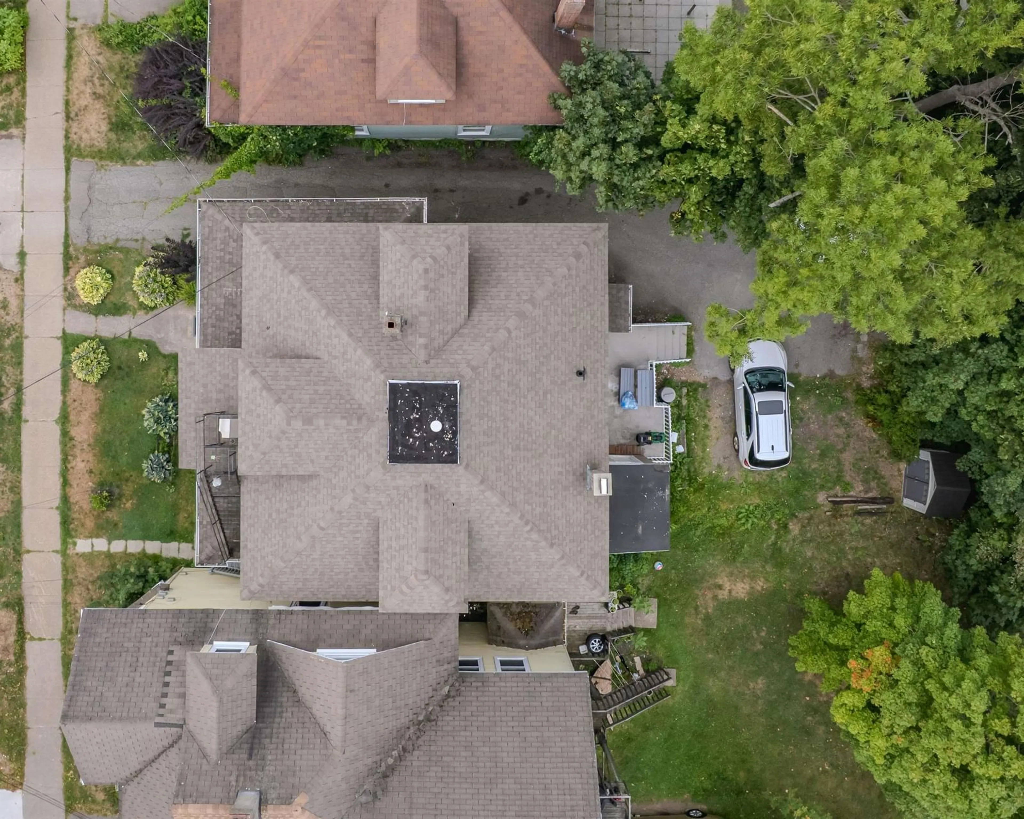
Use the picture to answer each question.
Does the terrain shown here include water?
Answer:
No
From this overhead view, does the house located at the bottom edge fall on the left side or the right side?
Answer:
left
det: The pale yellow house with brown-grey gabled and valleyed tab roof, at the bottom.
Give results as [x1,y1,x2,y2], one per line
[61,573,604,819]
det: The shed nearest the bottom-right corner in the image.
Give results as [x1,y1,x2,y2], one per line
[899,450,973,519]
